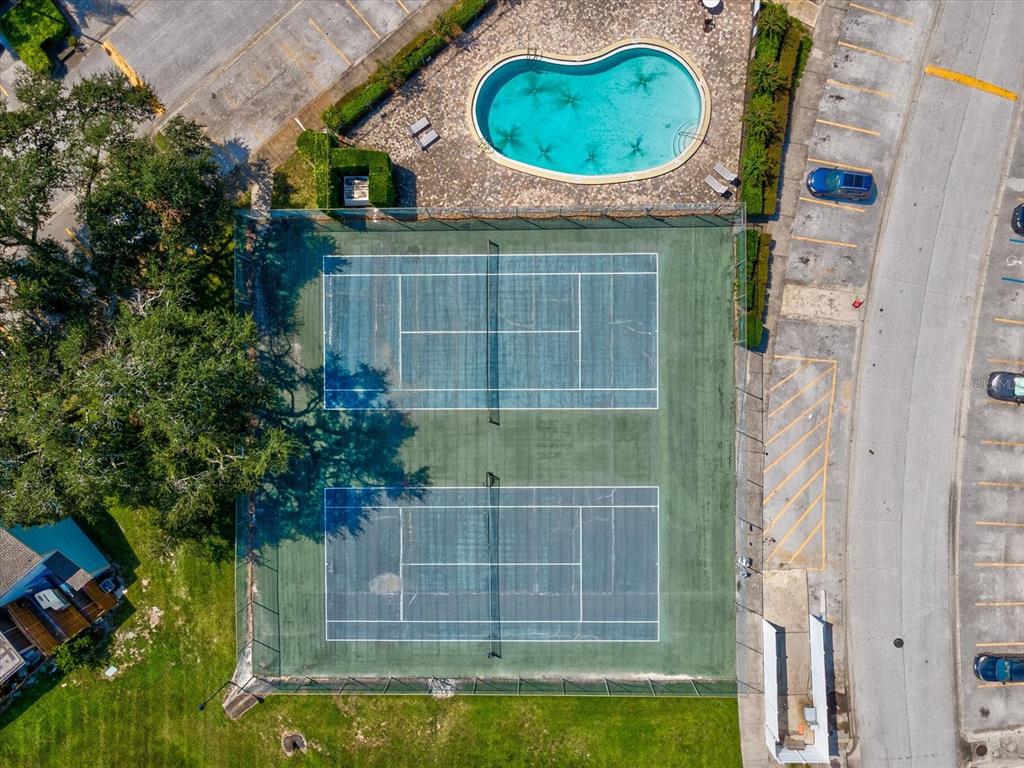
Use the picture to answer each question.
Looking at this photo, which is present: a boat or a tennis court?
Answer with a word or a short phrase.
tennis court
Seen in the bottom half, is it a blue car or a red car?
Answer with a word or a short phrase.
blue car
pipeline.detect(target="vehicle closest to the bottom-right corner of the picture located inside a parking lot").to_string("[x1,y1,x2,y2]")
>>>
[974,655,1024,690]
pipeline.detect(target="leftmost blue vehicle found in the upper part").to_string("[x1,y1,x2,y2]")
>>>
[804,164,874,201]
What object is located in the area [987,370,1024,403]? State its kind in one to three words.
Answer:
car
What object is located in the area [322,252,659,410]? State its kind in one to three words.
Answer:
tennis court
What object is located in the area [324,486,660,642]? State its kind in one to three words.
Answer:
tennis court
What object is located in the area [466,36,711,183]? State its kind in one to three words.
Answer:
swimming pool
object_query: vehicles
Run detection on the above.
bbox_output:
[1012,206,1024,234]
[804,164,874,201]
[987,370,1024,403]
[974,655,1024,690]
